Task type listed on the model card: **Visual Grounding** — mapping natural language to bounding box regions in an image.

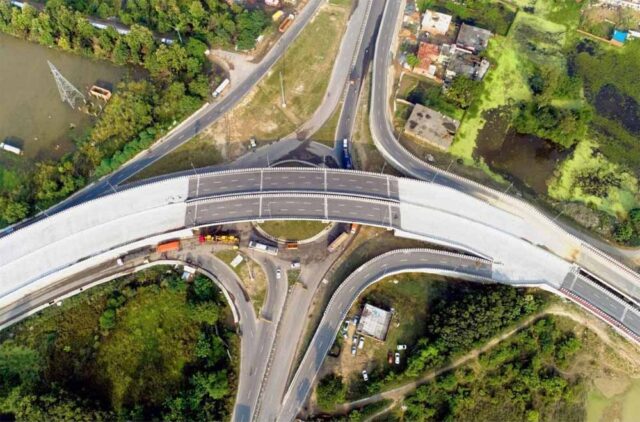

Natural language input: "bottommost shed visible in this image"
[357,303,392,342]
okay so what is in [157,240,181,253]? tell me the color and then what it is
orange vehicle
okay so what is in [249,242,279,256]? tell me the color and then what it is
white vehicle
